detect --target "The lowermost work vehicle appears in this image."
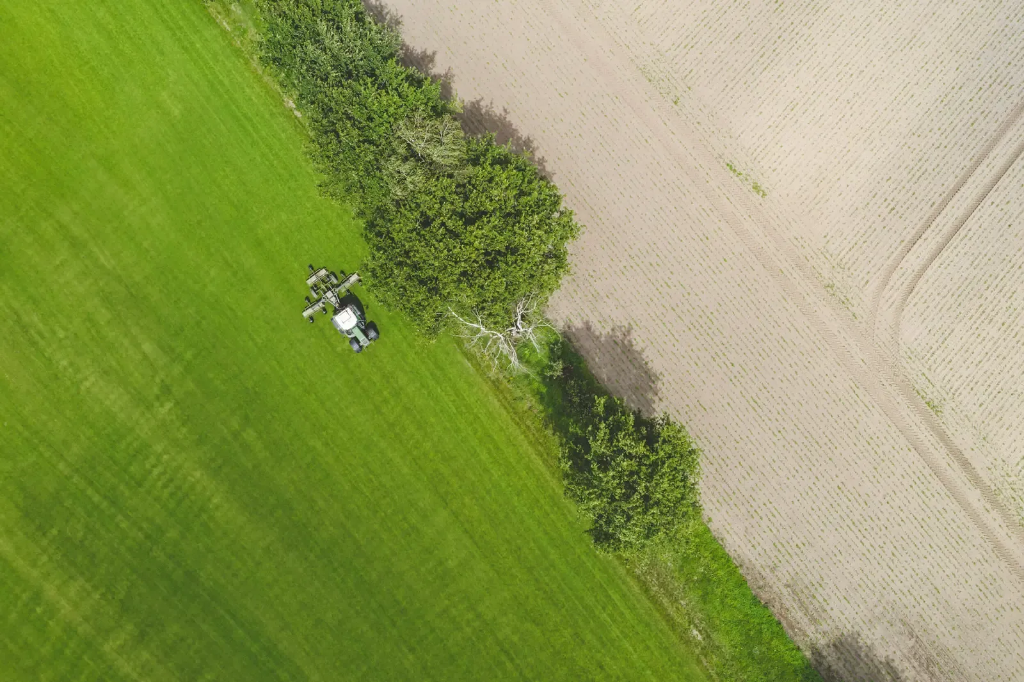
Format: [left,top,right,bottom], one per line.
[330,300,380,355]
